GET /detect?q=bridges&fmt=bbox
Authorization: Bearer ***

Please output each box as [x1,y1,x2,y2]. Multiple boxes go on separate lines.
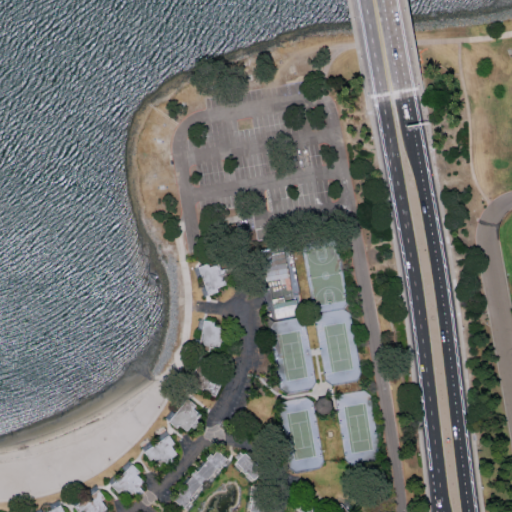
[350,0,424,98]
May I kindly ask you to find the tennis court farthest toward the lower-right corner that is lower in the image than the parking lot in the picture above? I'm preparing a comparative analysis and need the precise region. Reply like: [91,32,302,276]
[338,391,378,463]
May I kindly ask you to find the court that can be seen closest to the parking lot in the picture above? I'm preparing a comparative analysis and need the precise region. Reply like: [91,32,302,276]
[304,242,348,311]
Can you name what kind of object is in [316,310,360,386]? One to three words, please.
tennis court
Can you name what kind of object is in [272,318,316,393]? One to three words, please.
tennis court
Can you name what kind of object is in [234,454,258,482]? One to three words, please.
building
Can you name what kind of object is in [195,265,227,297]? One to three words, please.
house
